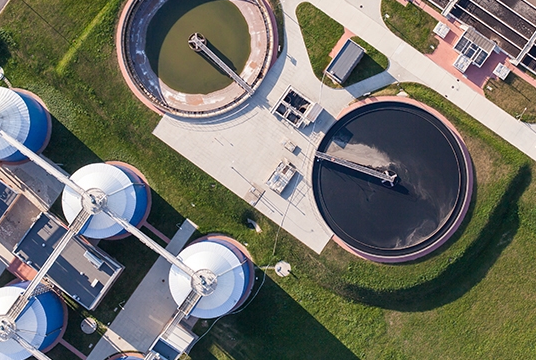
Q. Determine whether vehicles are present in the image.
No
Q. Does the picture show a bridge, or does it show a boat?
bridge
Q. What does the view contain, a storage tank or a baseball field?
storage tank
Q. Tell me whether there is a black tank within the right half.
Yes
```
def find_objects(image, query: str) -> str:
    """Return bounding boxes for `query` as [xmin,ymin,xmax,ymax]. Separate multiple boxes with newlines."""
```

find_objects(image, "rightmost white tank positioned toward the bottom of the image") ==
[168,235,252,320]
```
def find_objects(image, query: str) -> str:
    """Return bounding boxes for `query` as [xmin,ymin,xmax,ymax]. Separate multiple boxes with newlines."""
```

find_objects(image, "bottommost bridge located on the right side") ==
[318,151,396,184]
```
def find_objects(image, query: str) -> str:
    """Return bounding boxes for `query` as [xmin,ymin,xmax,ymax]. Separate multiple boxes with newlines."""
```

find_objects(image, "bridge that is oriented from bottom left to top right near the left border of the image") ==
[8,209,92,318]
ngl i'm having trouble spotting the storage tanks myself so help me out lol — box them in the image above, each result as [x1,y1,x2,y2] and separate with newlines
[0,85,50,166]
[314,98,474,263]
[117,0,277,115]
[168,235,252,320]
[61,160,150,240]
[0,276,65,360]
